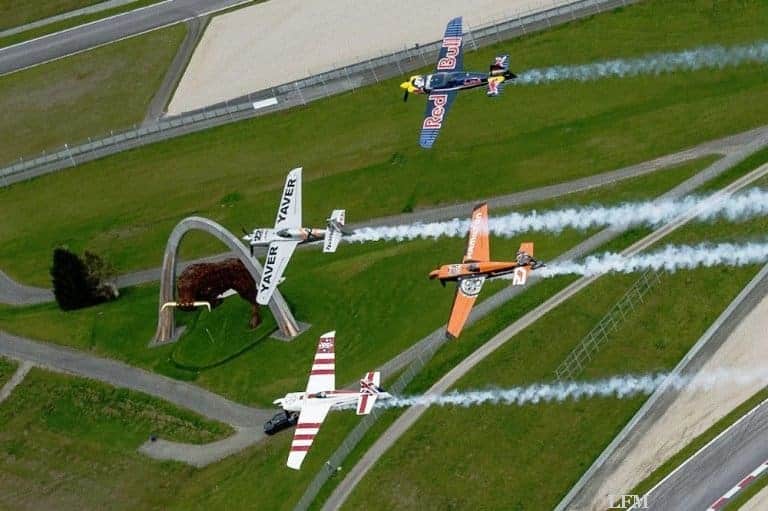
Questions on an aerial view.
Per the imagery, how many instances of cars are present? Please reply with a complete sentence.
The count comes to 1 car.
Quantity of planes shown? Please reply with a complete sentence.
The photo contains 4 planes.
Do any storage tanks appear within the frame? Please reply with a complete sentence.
No, the scene contains no storage tank.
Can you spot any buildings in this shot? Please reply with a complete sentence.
No, the photo shows no building.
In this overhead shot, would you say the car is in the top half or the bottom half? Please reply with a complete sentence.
You can find the car in the bottom half.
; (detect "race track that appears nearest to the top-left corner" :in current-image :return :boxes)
[0,0,254,75]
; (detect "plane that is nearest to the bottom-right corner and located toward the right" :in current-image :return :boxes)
[427,206,545,338]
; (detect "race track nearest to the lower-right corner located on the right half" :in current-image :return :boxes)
[627,399,768,511]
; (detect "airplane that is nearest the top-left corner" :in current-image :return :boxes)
[238,169,351,305]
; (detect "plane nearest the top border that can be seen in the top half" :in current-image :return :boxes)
[399,20,516,149]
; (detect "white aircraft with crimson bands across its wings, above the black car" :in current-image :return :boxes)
[270,334,386,467]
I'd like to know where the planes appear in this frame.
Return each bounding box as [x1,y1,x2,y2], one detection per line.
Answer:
[238,169,351,305]
[427,206,545,338]
[399,20,516,149]
[270,334,386,467]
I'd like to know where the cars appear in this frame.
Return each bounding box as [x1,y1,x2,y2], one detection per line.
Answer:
[260,407,302,431]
